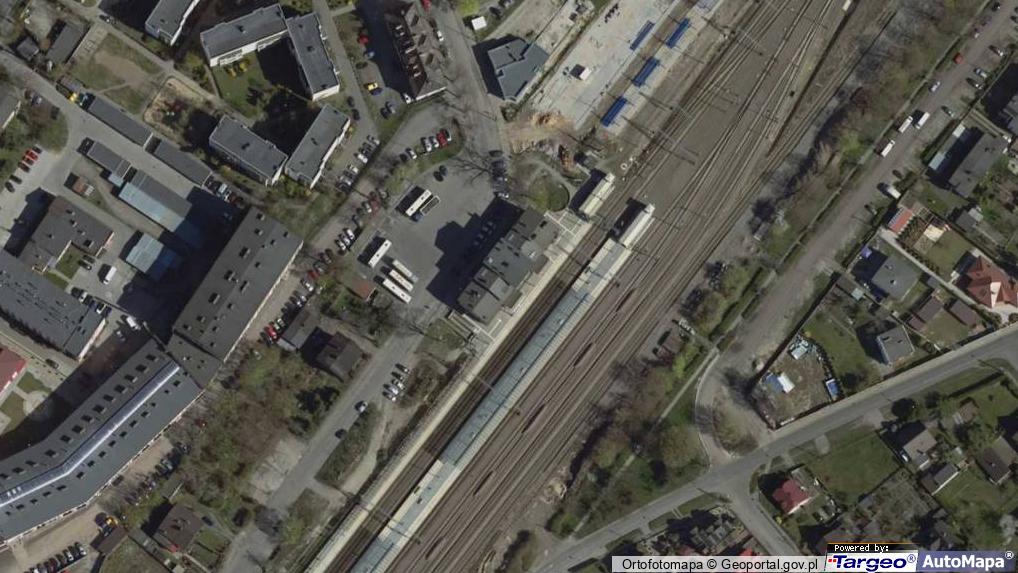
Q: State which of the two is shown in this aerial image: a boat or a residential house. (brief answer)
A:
residential house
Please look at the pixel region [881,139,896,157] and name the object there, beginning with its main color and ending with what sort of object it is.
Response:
white vehicle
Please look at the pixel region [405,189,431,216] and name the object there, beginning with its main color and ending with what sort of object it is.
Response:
white bus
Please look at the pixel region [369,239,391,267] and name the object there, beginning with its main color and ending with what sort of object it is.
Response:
white bus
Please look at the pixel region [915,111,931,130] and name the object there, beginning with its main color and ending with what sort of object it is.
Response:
white vehicle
